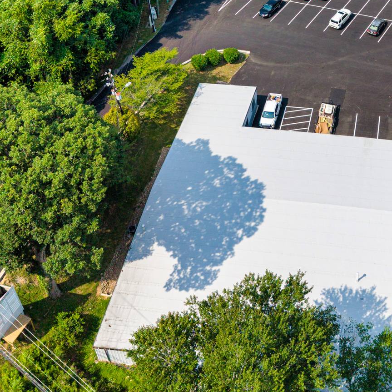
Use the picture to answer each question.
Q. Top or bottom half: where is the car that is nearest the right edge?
top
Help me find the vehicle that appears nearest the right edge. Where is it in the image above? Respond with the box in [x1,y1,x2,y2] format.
[365,18,390,39]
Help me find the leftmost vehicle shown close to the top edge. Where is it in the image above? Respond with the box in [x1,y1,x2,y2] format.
[257,0,282,19]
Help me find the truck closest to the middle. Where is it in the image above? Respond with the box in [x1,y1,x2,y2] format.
[259,92,283,128]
